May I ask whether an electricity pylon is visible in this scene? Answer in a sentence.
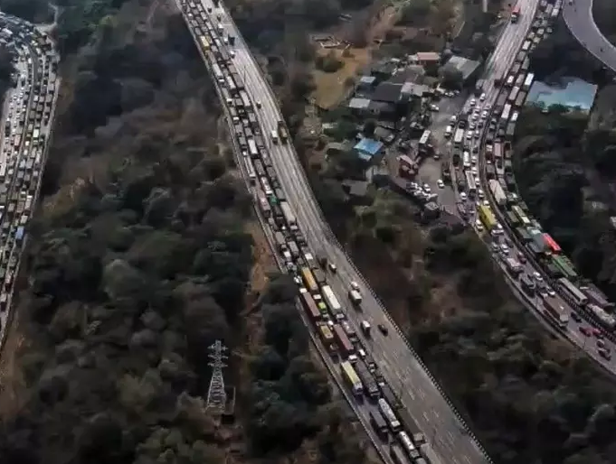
Yes, I can see an electricity pylon in this picture.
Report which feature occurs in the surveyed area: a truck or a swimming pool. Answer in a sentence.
There is a truck in the scene.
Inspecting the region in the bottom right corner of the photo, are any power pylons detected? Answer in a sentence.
No, no power pylon can be made out in the bottom right corner of the photo.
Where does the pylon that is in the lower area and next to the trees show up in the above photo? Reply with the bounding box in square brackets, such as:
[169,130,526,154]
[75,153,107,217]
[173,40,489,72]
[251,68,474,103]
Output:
[203,338,238,419]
